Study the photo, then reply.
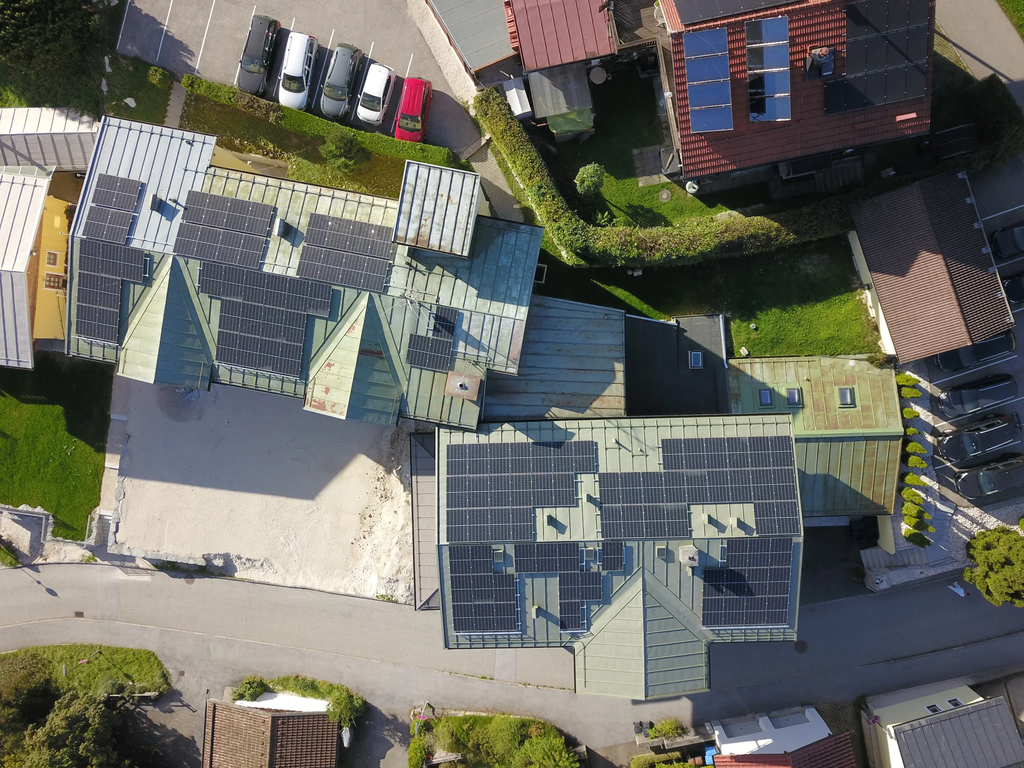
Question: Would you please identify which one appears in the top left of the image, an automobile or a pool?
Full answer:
Looking in the top left of the image, you will find an automobile.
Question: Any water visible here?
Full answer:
No, the picture contains no water.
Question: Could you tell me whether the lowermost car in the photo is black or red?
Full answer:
The lowermost car is black.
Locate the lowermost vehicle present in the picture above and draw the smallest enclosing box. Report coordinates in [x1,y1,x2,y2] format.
[952,449,1024,499]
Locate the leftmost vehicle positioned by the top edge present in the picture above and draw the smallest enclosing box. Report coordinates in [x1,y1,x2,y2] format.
[232,12,283,96]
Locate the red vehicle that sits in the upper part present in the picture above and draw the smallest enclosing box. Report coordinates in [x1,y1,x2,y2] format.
[390,64,436,141]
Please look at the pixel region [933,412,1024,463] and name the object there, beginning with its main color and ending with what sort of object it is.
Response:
black car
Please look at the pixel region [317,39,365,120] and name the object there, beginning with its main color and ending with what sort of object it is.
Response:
gray car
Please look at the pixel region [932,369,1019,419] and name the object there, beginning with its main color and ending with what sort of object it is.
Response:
black car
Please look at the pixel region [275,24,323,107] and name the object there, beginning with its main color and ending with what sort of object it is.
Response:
white car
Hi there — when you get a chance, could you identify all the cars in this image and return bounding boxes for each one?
[952,449,1024,499]
[932,369,1019,419]
[275,24,323,107]
[932,328,1019,378]
[1002,271,1024,305]
[390,64,436,141]
[232,12,283,96]
[317,39,365,120]
[933,412,1024,463]
[355,54,398,126]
